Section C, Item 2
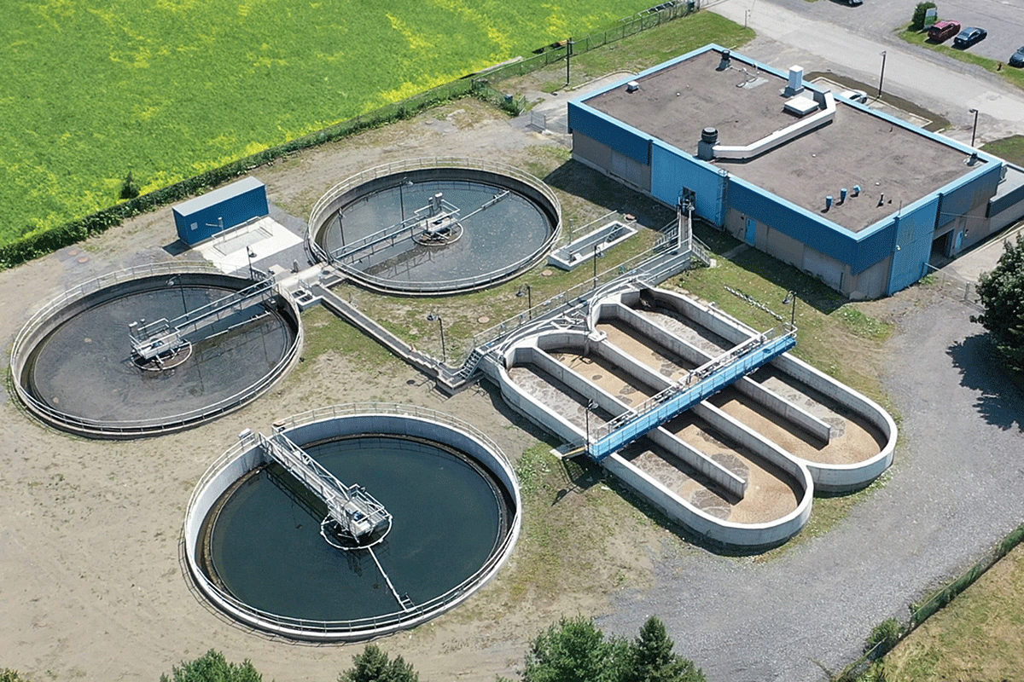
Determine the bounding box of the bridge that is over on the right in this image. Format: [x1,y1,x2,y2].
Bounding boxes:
[582,325,802,461]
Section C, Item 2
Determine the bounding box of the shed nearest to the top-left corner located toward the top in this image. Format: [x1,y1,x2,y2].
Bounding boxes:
[172,175,269,245]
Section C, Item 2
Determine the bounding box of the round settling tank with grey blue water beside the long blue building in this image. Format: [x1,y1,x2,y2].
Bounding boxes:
[307,157,566,302]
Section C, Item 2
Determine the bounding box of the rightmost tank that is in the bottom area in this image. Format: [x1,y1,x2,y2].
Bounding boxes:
[183,402,529,645]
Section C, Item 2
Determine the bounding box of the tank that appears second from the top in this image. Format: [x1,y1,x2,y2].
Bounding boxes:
[10,261,309,444]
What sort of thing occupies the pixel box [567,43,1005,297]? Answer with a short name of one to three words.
building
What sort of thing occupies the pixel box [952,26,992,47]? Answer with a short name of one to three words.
car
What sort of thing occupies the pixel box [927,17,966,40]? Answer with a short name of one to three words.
car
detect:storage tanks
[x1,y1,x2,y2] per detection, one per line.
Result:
[307,157,566,302]
[183,402,529,645]
[10,261,309,444]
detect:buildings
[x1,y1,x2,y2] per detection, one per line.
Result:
[567,43,1005,297]
[172,175,269,245]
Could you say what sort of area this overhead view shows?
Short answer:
industrial area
